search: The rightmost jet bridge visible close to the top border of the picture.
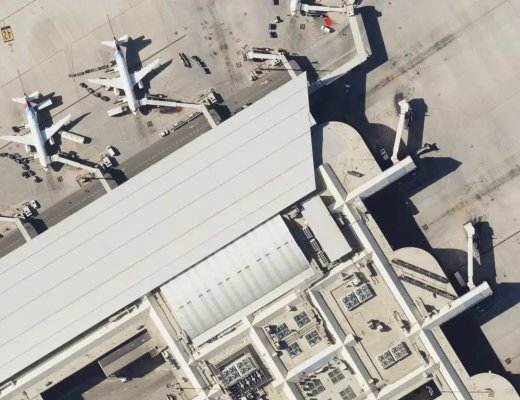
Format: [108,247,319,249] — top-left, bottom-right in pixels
[299,0,372,94]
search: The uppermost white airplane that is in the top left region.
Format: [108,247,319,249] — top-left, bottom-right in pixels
[88,36,158,115]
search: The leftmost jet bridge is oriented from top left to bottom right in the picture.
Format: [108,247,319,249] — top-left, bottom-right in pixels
[0,213,32,243]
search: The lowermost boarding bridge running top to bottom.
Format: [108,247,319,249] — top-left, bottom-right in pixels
[463,220,476,288]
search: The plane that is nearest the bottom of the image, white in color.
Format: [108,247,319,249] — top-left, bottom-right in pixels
[0,92,69,172]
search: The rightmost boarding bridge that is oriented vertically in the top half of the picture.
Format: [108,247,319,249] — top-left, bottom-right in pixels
[391,96,410,164]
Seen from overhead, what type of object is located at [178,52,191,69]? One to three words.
vehicle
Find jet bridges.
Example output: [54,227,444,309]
[299,0,372,94]
[0,213,32,243]
[243,51,297,80]
[391,96,410,164]
[50,154,113,193]
[463,220,476,288]
[137,98,218,128]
